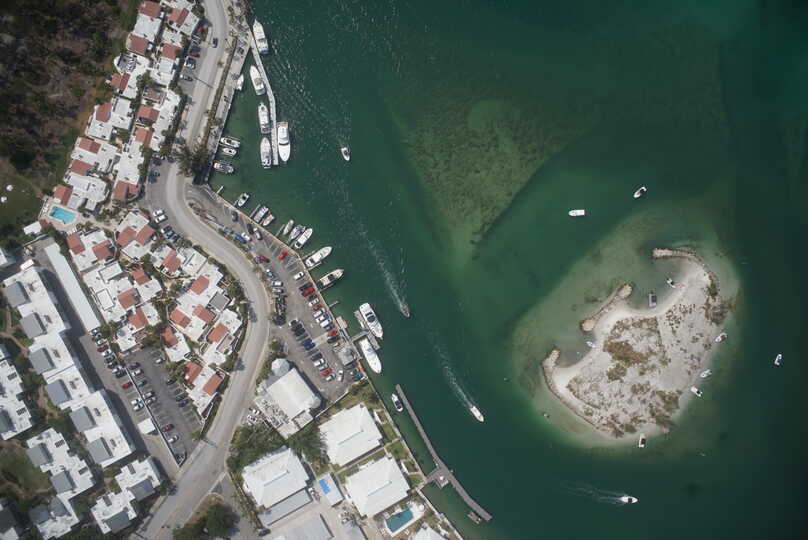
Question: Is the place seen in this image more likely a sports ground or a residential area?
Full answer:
This image shows a residential area.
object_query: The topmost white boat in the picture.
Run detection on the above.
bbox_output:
[255,20,269,56]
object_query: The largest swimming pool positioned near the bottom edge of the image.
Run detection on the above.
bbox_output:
[383,501,425,536]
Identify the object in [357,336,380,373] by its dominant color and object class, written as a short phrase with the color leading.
white boat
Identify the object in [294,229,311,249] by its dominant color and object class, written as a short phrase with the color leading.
white boat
